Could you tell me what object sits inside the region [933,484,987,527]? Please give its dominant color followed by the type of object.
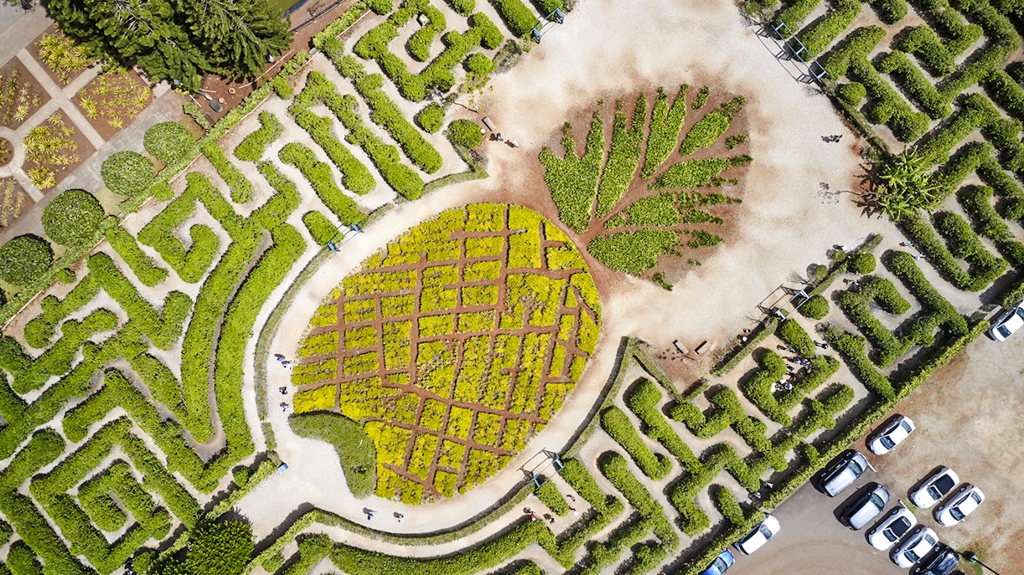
white car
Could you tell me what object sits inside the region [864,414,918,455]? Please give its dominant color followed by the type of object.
white car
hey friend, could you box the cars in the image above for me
[910,542,961,575]
[838,482,892,533]
[867,506,919,550]
[933,484,987,527]
[888,524,941,569]
[691,546,737,575]
[734,511,783,557]
[818,450,871,500]
[864,414,918,455]
[908,465,962,508]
